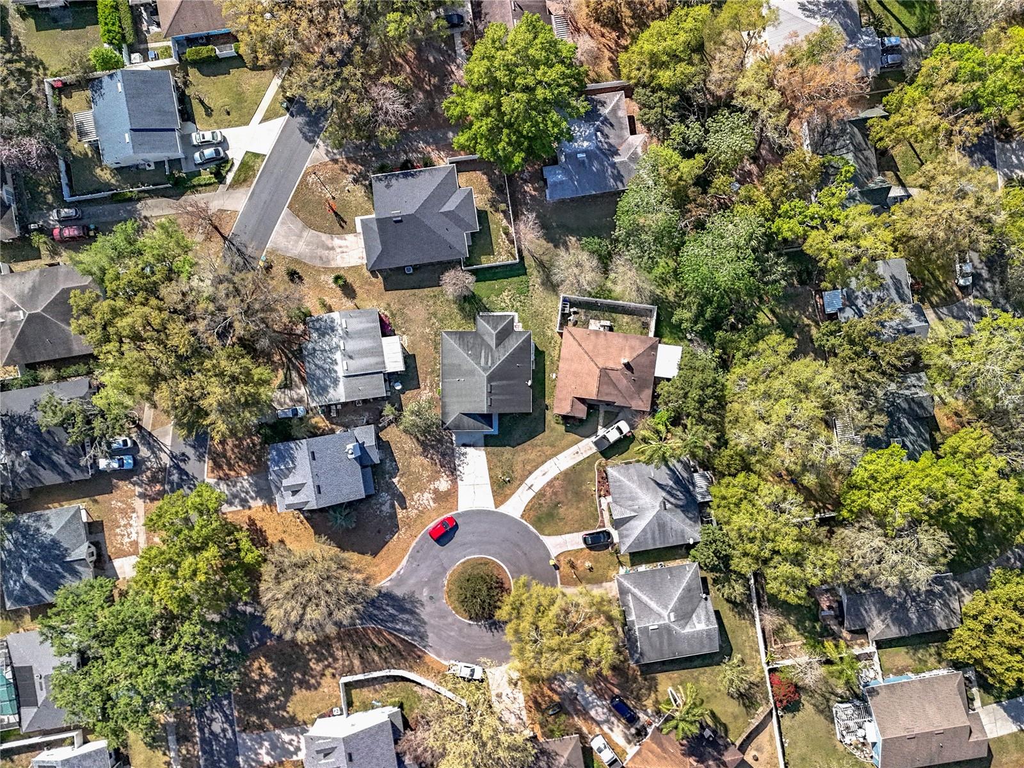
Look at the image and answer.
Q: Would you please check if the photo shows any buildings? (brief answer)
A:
Yes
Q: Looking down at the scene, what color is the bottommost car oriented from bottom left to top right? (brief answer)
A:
red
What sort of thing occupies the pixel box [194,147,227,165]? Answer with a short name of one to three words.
car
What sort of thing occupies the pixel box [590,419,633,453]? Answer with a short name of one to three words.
truck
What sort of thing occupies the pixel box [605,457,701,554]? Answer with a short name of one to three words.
house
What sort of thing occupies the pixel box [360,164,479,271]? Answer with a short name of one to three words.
house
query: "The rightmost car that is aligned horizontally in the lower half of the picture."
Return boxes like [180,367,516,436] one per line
[582,530,613,545]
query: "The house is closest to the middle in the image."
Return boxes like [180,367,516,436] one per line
[441,314,533,431]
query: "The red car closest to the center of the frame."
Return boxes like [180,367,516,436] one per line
[428,516,458,540]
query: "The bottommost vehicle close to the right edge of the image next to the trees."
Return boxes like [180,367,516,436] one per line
[954,255,974,288]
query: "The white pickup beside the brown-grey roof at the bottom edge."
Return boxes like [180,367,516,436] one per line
[587,731,622,768]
